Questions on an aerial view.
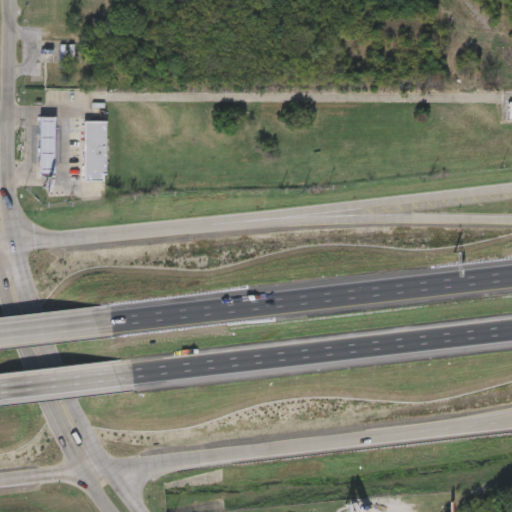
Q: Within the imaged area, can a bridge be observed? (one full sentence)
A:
Yes, a bridge can be made out from above.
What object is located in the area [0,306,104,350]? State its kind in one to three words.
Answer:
bridge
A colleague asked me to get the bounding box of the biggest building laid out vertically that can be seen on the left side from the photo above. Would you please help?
[84,120,108,181]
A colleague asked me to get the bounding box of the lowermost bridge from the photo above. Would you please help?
[0,362,122,406]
